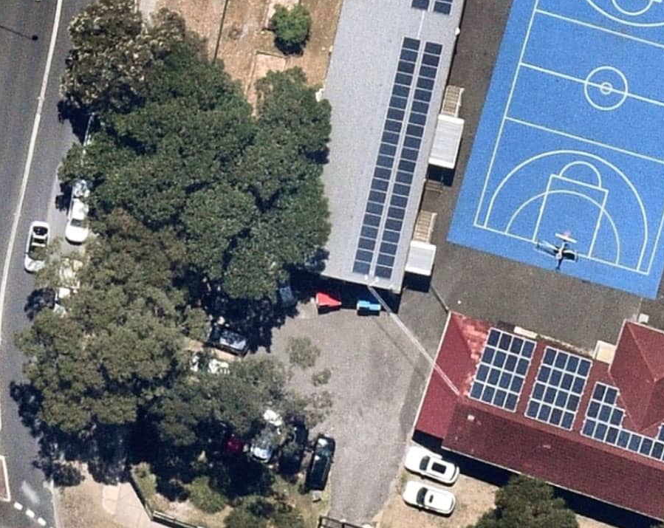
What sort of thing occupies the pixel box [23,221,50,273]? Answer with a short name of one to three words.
car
